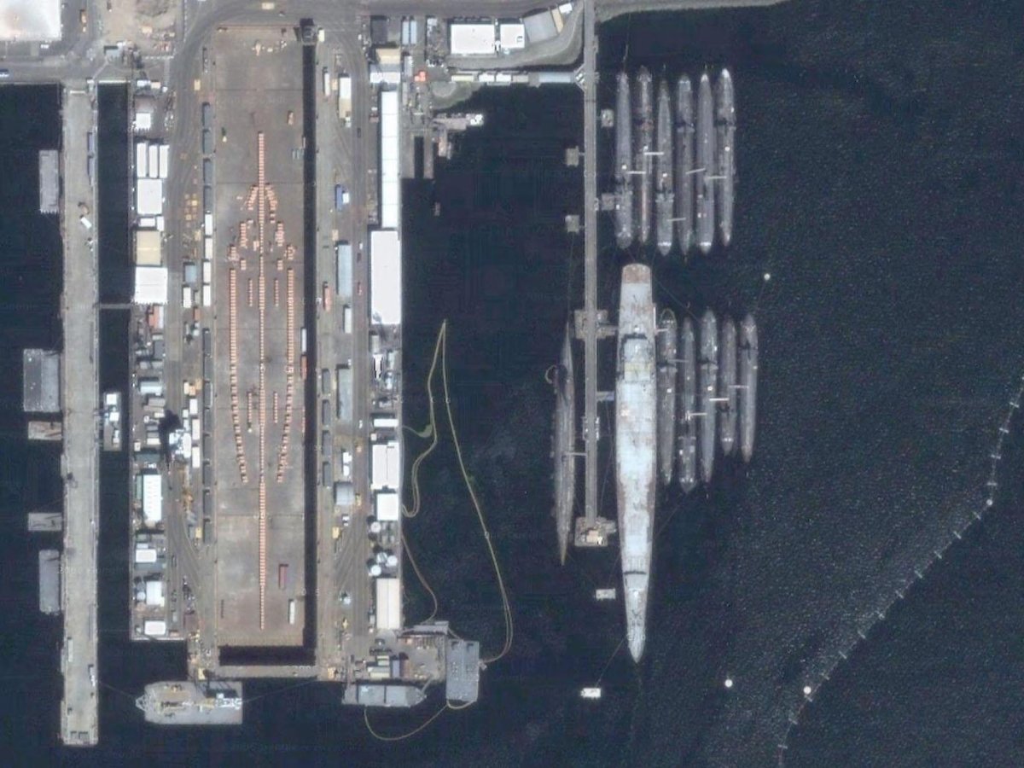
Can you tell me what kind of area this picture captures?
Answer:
port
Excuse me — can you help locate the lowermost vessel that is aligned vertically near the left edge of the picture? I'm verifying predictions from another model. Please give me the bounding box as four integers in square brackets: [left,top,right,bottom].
[39,550,60,614]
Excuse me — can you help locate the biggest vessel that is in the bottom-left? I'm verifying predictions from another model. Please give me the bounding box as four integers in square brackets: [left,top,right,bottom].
[136,682,243,724]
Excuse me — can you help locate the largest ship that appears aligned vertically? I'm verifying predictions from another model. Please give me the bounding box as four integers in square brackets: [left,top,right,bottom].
[617,263,656,663]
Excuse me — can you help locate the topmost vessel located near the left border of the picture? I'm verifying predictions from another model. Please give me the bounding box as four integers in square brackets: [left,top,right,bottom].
[40,150,59,214]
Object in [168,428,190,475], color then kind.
white crane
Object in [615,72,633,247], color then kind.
gray ship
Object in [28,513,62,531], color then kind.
gray ship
